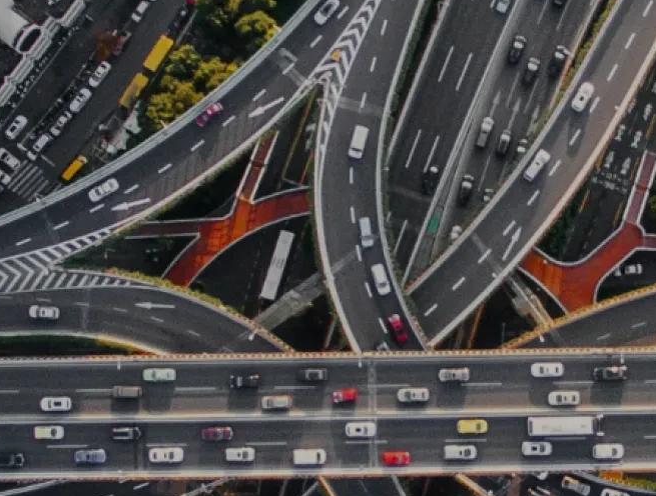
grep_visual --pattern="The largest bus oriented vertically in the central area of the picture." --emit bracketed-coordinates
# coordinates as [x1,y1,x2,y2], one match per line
[262,228,290,298]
